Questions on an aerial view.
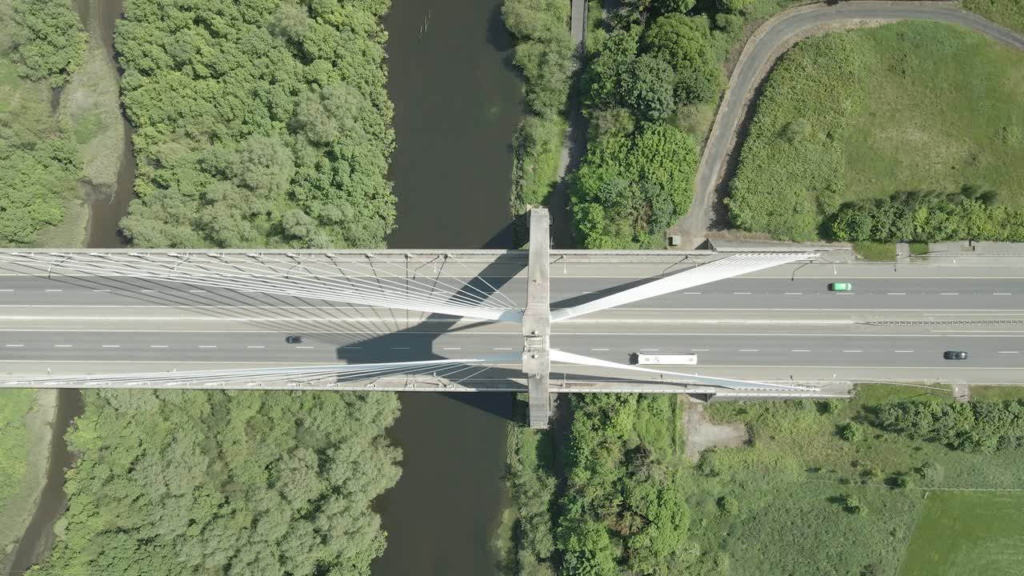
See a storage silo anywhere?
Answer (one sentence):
No, the picture doesn't show any storage silo.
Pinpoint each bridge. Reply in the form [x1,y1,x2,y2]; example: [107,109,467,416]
[0,206,861,430]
